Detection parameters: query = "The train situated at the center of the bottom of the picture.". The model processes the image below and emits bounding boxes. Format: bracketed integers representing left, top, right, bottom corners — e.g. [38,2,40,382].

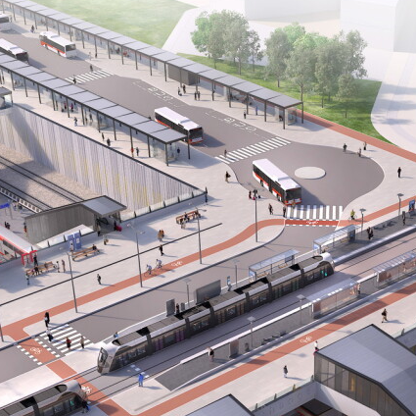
[95,255,334,375]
